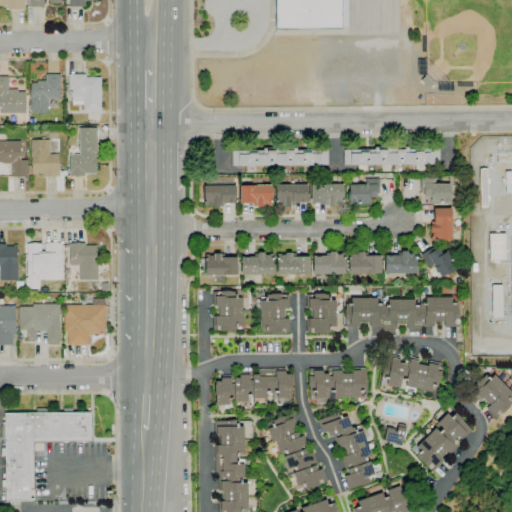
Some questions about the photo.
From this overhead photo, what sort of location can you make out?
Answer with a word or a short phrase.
residential area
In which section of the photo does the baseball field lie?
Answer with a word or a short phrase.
top right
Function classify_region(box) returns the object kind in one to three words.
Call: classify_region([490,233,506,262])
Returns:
shed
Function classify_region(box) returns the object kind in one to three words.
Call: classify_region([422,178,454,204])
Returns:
house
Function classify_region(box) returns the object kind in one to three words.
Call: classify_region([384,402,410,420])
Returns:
swimming pool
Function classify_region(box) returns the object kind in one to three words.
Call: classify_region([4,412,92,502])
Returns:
building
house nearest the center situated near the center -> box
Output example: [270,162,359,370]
[243,254,275,275]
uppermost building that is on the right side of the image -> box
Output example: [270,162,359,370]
[276,0,344,28]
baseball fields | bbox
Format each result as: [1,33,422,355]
[426,0,512,84]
